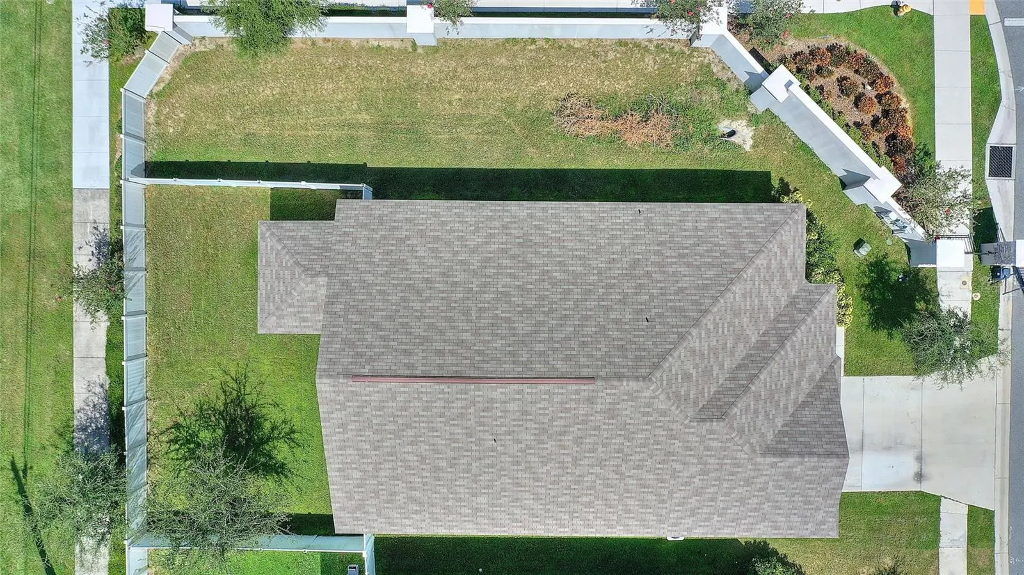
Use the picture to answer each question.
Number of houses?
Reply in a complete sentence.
In total, there is 1 house in the scene.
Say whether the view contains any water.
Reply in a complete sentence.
No, no water is visible.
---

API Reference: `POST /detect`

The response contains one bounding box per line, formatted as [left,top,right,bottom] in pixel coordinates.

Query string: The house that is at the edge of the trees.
[255,200,849,539]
